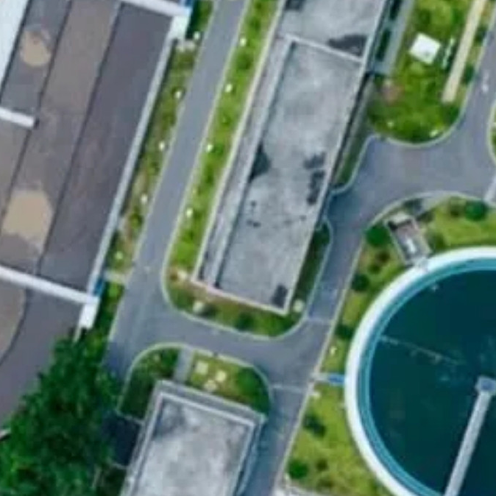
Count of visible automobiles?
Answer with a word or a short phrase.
0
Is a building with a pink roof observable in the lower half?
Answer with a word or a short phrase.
No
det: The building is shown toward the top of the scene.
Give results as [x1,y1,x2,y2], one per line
[192,0,390,314]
